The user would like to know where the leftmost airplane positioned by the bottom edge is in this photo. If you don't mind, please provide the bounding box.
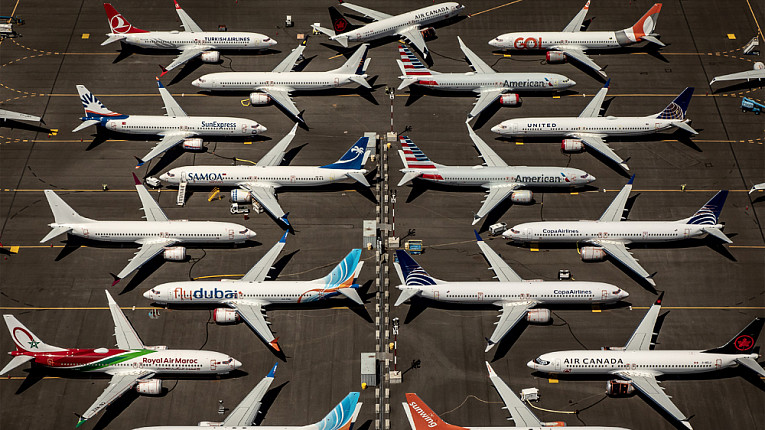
[0,287,241,428]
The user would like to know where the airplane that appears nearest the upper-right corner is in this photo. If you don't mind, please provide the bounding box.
[711,58,765,83]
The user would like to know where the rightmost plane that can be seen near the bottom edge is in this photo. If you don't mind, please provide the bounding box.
[527,288,765,430]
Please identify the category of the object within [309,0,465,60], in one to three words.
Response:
airplane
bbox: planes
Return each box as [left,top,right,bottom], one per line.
[503,171,733,286]
[489,0,666,77]
[0,287,241,428]
[309,0,465,60]
[100,0,277,77]
[72,74,267,169]
[128,355,363,430]
[143,225,363,352]
[527,288,765,430]
[752,180,765,193]
[403,357,631,430]
[0,112,42,126]
[191,34,371,122]
[393,226,628,353]
[40,170,256,285]
[492,75,699,170]
[397,35,577,122]
[159,120,370,225]
[711,58,765,83]
[398,121,595,225]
